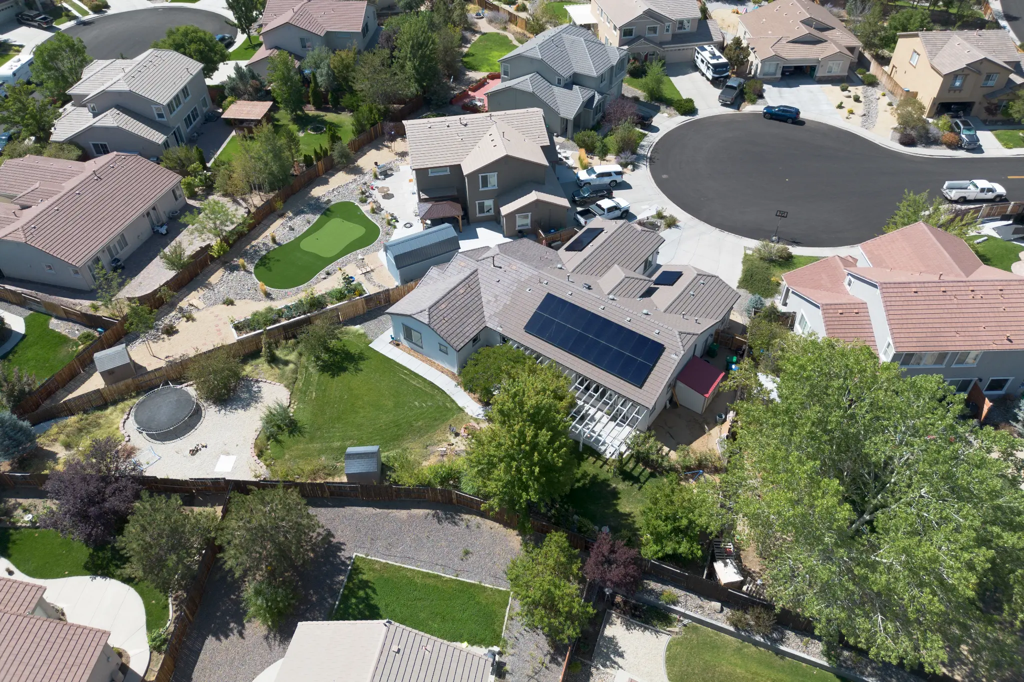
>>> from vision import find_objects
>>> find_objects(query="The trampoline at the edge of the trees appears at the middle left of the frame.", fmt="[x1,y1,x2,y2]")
[128,382,203,440]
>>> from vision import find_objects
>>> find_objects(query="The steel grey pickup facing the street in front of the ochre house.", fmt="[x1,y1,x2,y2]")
[953,120,985,152]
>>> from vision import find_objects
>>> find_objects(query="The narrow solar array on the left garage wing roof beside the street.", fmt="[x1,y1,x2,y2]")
[558,225,612,258]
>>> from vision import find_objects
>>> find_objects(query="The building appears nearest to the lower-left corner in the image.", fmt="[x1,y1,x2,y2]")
[0,571,122,682]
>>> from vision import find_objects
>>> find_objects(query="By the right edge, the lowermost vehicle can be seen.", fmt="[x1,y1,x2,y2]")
[938,177,1012,204]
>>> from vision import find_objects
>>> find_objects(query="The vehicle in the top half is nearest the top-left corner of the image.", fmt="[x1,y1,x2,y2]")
[16,10,54,29]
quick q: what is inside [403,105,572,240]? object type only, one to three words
house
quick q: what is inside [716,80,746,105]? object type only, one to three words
truck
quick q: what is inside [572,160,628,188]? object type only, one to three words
car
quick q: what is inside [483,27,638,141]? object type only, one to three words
house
